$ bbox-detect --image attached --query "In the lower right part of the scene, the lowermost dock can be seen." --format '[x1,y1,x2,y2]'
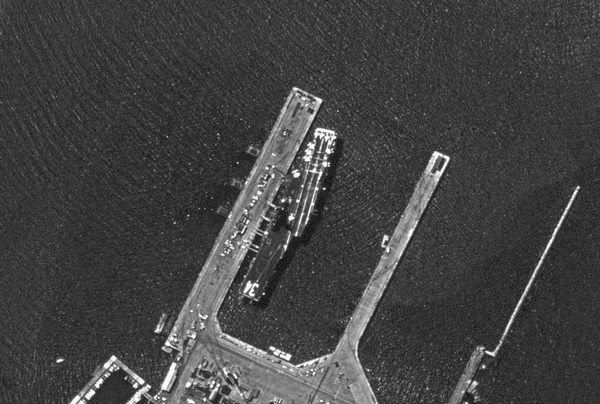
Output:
[449,347,485,404]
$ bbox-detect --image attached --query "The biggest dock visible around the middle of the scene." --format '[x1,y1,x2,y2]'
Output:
[163,87,322,352]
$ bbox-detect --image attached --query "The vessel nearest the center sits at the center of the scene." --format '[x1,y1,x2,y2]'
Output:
[239,127,338,301]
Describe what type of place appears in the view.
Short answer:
port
